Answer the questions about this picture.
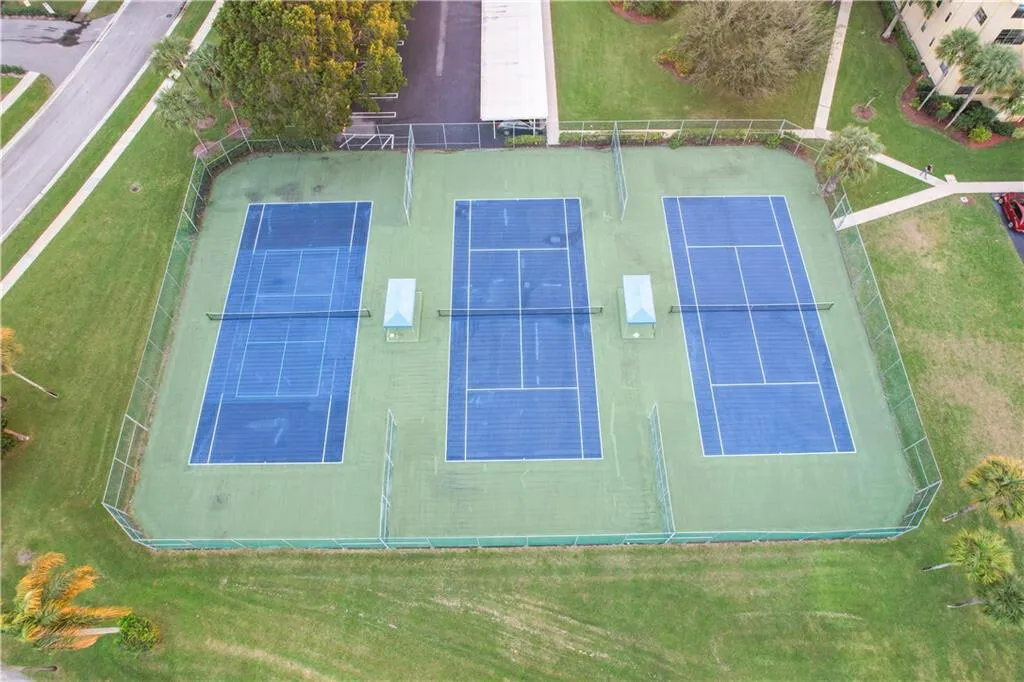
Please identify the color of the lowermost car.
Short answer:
red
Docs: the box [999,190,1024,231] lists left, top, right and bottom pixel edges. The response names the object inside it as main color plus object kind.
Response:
red car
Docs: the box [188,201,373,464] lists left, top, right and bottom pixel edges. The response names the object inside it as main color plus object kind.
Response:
blue tennis court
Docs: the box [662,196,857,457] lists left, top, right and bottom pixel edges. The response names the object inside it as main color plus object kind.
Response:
blue tennis court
